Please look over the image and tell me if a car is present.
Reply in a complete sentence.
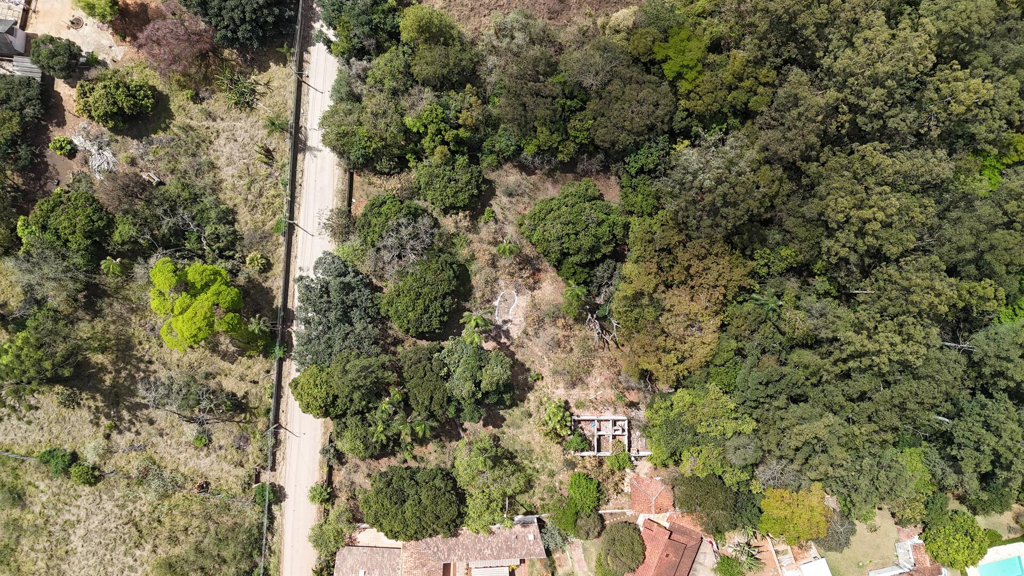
No, there's no car here.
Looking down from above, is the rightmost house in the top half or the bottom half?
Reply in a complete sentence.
The bottom half of the photo is where the rightmost house is.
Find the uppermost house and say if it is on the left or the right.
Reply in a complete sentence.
You can find the uppermost house on the left side of the picture.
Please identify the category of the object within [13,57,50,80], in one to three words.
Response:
shed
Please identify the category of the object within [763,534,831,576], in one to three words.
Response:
house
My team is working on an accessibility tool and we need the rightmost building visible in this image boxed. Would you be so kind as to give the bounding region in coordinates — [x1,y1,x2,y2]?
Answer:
[865,536,948,576]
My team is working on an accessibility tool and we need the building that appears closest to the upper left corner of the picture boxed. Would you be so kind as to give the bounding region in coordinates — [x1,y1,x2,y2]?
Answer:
[0,20,35,57]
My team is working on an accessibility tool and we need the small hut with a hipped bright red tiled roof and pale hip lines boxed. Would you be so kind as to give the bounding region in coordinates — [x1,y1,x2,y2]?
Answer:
[630,475,675,515]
